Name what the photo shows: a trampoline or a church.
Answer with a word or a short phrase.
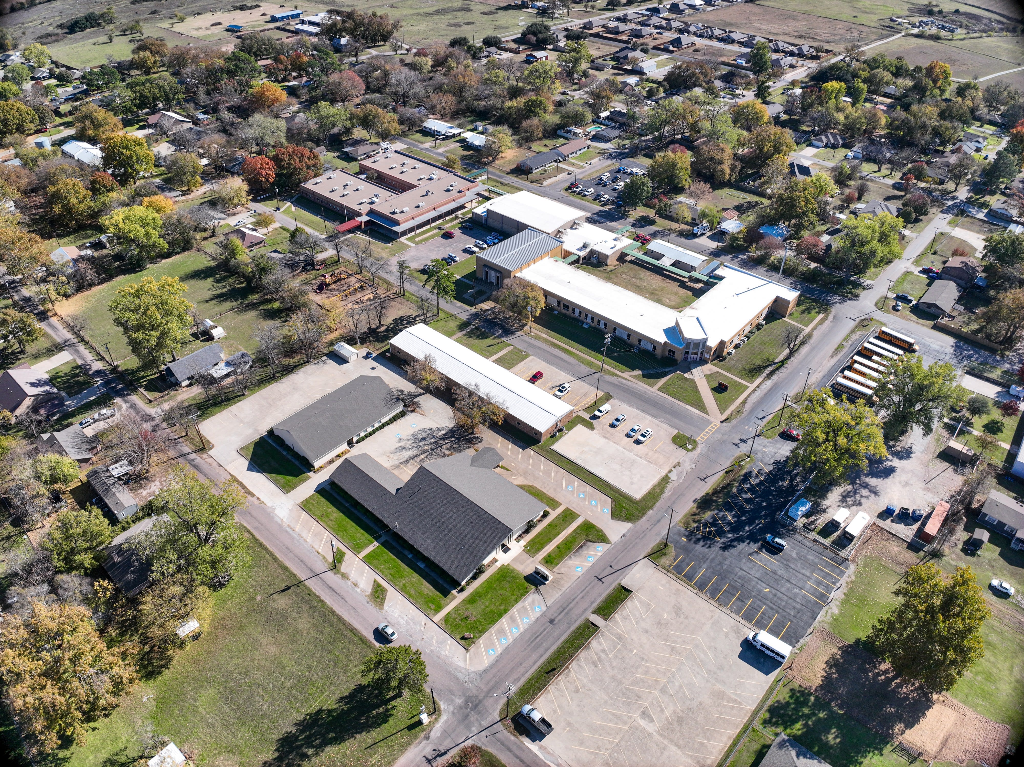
church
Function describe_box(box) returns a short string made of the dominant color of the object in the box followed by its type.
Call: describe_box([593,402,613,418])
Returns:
white vehicle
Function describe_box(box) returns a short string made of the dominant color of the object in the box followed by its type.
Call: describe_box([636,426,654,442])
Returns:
white car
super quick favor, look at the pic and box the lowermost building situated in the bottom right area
[735,716,842,767]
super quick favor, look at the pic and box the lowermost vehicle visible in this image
[521,703,555,735]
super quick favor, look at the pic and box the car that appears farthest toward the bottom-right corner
[988,579,1017,597]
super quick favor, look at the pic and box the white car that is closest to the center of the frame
[554,382,571,397]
